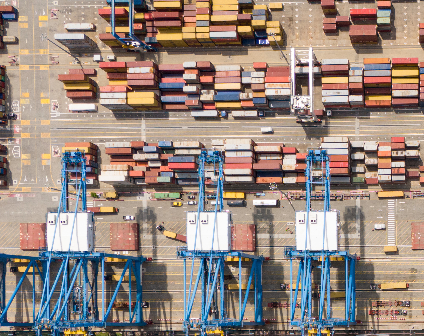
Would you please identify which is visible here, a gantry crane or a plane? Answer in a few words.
gantry crane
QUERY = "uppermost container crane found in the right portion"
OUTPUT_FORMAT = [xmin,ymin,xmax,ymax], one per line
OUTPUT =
[288,44,324,123]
